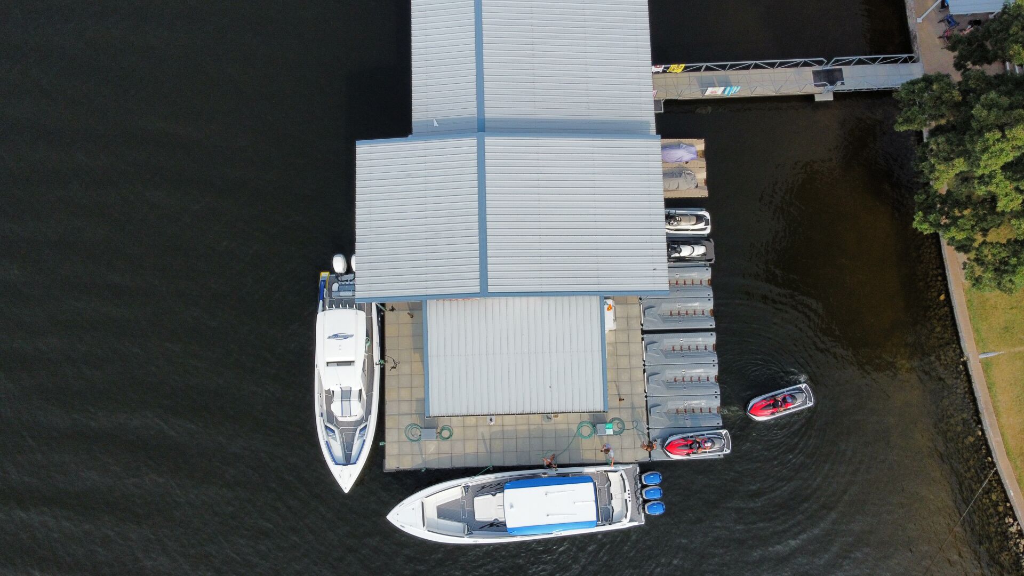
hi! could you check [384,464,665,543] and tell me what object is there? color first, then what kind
white boat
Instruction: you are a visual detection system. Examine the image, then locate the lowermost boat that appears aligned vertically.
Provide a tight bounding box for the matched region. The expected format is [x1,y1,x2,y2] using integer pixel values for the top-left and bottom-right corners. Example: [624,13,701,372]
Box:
[314,255,380,492]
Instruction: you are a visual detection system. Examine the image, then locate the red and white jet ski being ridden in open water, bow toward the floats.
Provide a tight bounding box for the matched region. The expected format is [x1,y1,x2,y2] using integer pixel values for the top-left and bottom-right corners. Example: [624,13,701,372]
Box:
[746,384,813,419]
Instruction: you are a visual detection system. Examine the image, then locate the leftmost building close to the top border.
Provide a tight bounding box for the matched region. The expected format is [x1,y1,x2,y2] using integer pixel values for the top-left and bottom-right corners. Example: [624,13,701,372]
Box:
[411,0,657,137]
